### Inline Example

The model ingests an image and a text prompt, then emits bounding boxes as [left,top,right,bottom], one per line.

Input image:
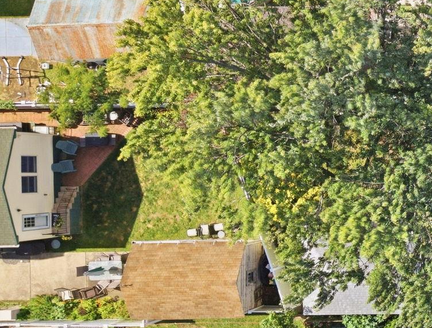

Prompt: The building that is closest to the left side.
[0,127,84,247]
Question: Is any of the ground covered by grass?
Yes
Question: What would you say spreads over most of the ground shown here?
trees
